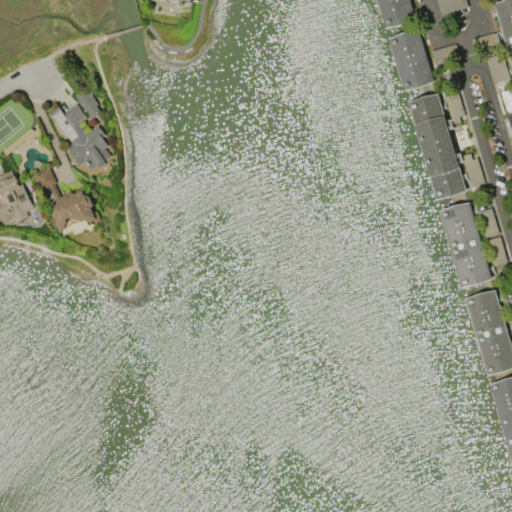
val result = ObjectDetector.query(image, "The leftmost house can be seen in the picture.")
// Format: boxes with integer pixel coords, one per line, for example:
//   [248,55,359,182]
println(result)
[0,170,34,225]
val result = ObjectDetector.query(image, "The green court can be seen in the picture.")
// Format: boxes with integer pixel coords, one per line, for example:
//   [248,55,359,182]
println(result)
[0,96,34,153]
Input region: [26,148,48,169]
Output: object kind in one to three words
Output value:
swimming pool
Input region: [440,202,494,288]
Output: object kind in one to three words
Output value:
building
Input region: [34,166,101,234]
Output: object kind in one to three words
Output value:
house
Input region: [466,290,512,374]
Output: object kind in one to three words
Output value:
building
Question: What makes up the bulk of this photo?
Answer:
water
